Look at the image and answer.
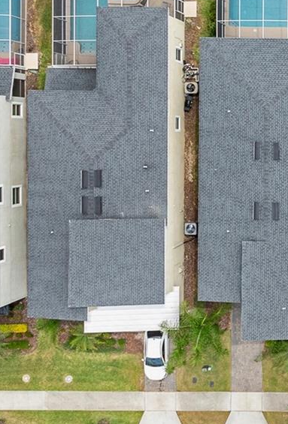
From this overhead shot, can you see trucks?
No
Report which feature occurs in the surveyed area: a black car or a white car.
white car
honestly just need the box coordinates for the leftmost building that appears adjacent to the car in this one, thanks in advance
[25,6,186,335]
